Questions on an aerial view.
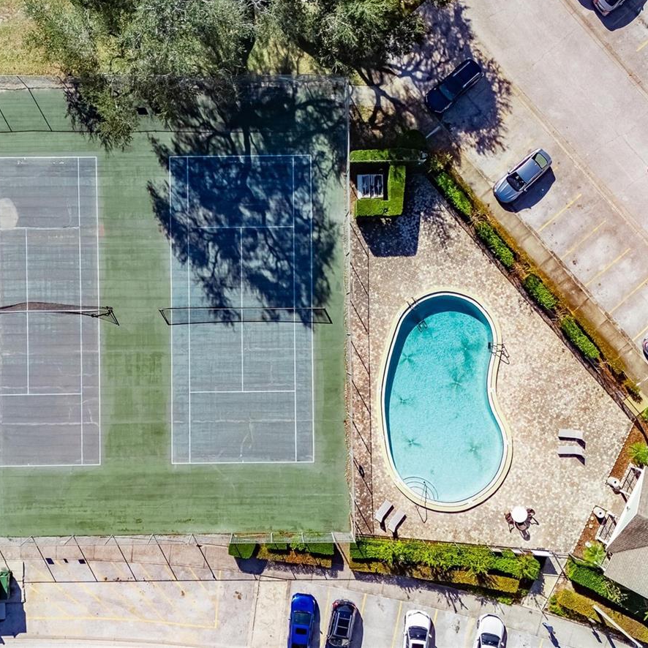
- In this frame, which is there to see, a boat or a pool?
pool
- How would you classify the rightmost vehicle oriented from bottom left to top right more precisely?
automobile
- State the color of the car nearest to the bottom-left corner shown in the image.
blue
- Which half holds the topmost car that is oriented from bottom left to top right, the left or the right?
right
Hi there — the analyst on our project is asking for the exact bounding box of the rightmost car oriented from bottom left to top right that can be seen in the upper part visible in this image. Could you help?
[497,149,554,201]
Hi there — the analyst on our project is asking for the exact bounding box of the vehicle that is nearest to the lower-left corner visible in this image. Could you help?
[289,594,319,648]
